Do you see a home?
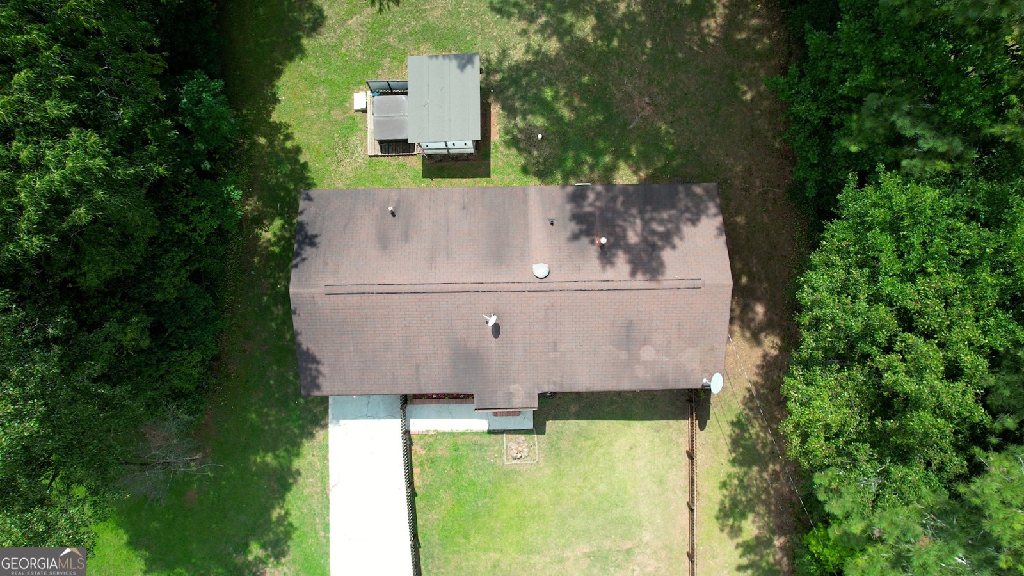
Yes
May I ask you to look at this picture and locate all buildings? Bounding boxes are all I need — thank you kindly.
[407,53,481,155]
[289,183,733,415]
